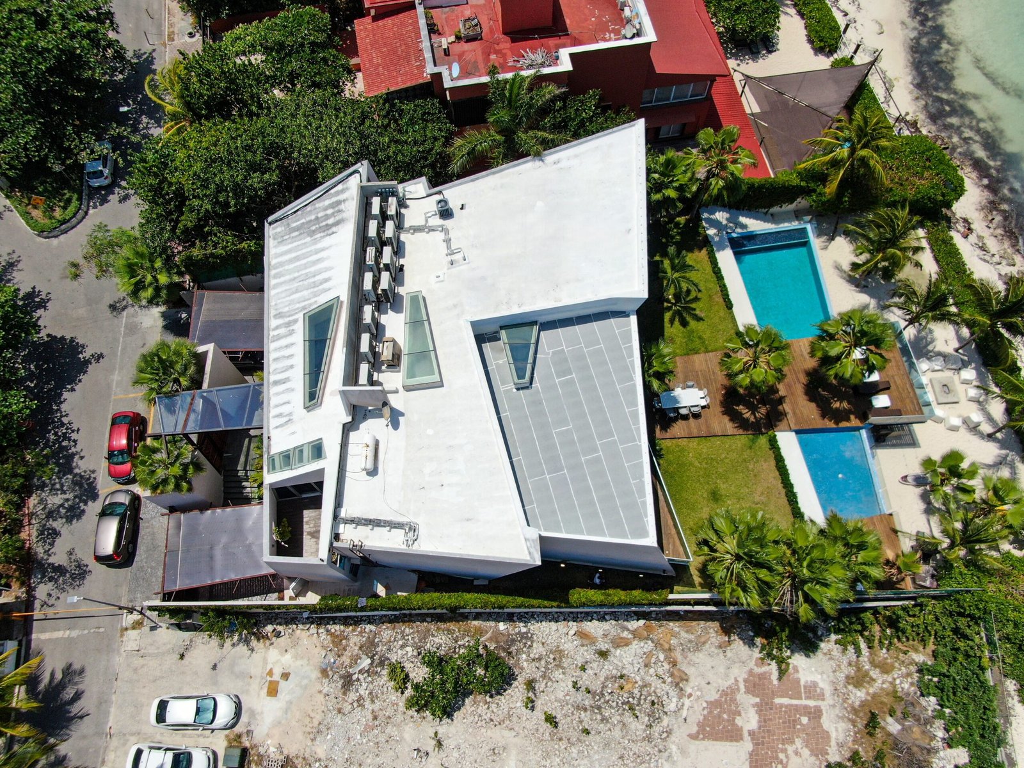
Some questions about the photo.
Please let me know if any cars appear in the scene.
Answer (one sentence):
Yes, a car appears in the view.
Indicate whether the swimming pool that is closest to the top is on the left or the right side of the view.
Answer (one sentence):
The swimming pool that is closest to the top sits on the right side.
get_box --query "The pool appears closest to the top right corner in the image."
[728,223,835,341]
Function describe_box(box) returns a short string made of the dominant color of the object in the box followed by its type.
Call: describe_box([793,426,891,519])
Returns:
blue swimming pool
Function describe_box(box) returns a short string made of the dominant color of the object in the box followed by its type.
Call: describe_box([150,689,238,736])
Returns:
white car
